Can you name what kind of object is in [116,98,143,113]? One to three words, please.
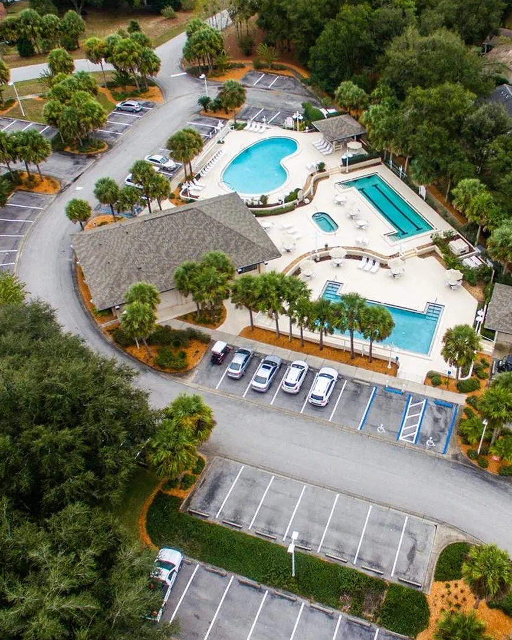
car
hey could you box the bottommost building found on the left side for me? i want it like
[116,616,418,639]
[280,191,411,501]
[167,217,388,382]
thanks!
[66,191,281,328]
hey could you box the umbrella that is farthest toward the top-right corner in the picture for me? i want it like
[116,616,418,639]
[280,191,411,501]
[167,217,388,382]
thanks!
[345,139,364,151]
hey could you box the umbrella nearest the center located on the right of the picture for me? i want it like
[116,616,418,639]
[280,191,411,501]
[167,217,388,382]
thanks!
[296,260,320,275]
